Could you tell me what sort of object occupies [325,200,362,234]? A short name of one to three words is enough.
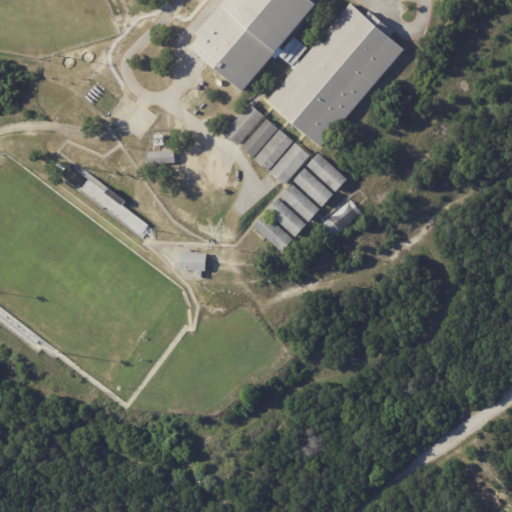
house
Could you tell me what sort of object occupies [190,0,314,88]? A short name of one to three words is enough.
building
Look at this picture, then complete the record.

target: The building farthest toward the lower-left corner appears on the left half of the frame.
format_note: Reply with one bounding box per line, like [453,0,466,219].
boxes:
[178,253,206,278]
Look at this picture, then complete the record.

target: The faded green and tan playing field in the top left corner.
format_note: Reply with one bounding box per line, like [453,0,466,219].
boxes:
[0,0,121,55]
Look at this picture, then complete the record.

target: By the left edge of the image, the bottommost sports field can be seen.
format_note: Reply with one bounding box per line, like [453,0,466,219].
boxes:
[0,153,186,400]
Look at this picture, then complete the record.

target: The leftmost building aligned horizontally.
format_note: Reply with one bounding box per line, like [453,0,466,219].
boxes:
[147,150,174,164]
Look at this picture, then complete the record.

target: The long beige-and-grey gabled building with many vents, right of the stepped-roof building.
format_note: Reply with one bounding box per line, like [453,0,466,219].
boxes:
[268,3,404,145]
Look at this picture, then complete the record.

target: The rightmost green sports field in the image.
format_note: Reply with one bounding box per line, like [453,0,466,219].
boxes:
[131,308,283,409]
